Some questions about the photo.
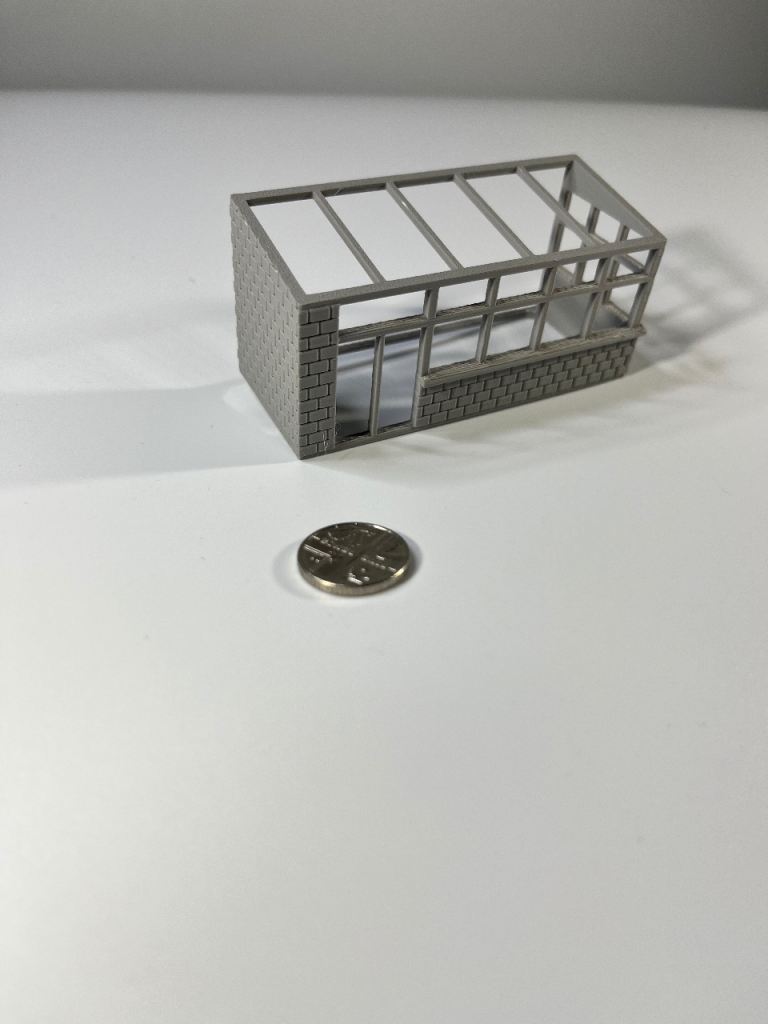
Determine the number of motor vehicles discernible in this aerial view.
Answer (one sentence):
Not a single motor vehicle can be seen.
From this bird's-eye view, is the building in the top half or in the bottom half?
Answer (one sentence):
The building sits in the top half of the picture.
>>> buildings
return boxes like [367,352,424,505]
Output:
[229,154,667,459]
